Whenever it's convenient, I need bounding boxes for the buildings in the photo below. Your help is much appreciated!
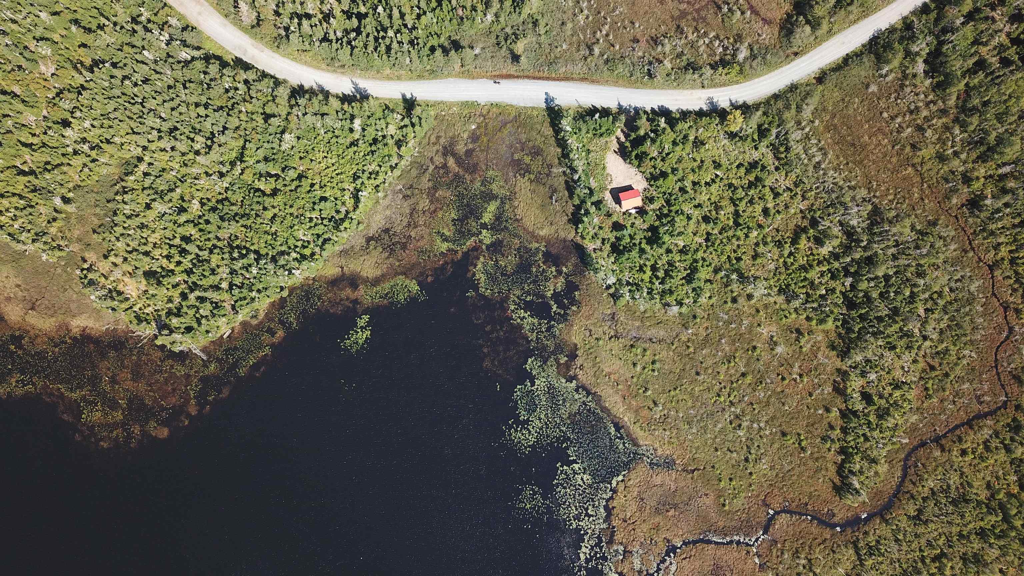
[619,190,642,211]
